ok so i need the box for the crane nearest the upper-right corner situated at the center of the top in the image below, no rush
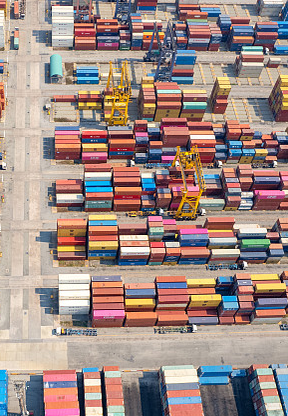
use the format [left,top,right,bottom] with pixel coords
[140,25,181,82]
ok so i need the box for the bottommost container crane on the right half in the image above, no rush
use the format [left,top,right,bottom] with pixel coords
[169,146,214,222]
